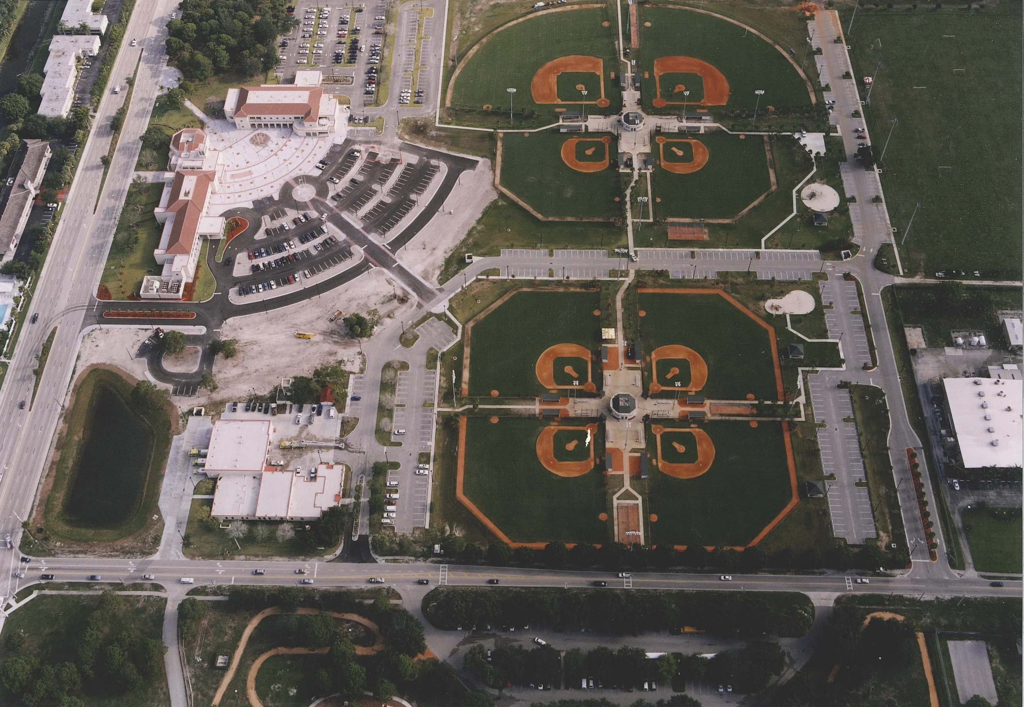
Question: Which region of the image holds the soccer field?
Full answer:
You can find the soccer field in the top right area of the picture.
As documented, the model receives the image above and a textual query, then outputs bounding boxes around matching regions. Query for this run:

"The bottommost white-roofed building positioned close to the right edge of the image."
[938,378,1024,477]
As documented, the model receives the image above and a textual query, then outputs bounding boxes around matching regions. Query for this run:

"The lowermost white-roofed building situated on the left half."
[205,420,345,521]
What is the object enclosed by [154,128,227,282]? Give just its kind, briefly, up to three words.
building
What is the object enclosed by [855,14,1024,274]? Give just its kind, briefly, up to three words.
soccer field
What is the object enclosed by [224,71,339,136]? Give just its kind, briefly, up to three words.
building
